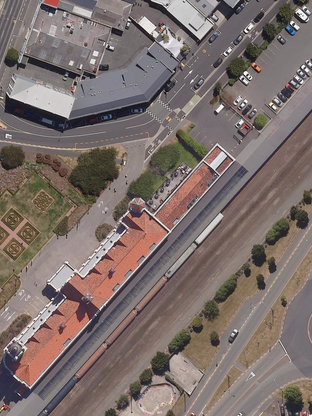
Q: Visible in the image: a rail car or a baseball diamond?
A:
rail car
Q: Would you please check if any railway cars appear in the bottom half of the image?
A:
Yes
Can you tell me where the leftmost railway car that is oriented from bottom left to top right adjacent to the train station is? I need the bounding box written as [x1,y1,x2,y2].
[45,376,76,412]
